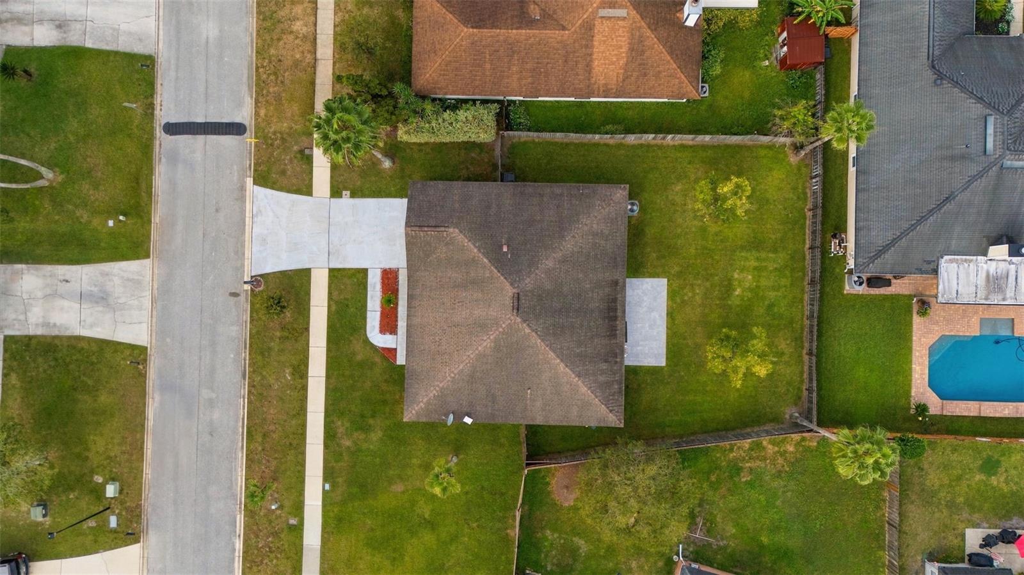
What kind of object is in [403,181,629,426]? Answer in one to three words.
house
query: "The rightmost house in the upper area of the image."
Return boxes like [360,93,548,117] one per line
[846,0,1024,306]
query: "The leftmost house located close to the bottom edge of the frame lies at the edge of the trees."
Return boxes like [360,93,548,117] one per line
[676,545,736,575]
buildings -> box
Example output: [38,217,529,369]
[676,545,736,575]
[926,560,1014,575]
[411,0,758,101]
[774,16,828,73]
[403,181,629,426]
[846,0,1024,306]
